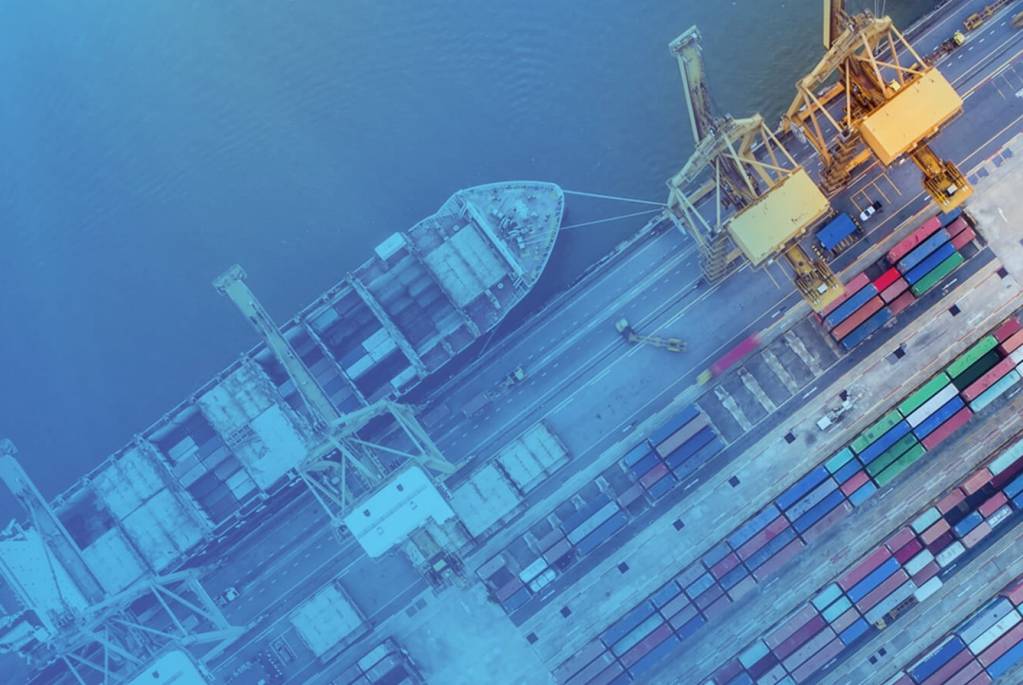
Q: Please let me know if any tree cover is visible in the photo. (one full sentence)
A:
No, there is no tree cover in the image.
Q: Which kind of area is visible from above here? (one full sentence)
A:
This image shows a port.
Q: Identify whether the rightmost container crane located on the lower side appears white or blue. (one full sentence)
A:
In this view, the rightmost container crane located on the lower side is blue.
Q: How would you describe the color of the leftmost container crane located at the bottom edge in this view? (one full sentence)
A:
The leftmost container crane located at the bottom edge looks blue in the image.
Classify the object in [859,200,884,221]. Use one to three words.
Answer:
vehicle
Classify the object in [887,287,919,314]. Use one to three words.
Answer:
shipping container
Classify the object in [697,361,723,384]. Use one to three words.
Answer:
truck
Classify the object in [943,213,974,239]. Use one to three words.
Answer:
shipping container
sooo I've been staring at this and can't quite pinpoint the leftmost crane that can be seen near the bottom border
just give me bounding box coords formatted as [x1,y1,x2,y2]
[0,432,270,685]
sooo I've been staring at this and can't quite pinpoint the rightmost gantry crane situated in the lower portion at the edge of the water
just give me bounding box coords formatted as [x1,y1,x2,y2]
[212,260,474,589]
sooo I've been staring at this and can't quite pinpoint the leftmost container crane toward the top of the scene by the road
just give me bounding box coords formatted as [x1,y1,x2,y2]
[656,26,846,315]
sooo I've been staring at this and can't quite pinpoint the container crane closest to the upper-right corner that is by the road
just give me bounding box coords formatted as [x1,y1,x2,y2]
[767,0,978,215]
